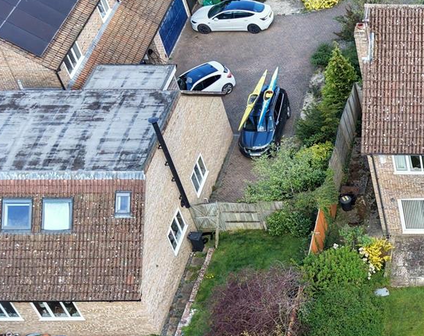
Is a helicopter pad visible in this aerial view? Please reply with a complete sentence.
No, the picture doesn't show any helicopter pad.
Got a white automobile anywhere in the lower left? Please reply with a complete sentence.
No, the scene shows no white automobile in the lower left.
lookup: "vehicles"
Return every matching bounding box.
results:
[188,0,279,36]
[163,53,248,96]
[234,82,299,161]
